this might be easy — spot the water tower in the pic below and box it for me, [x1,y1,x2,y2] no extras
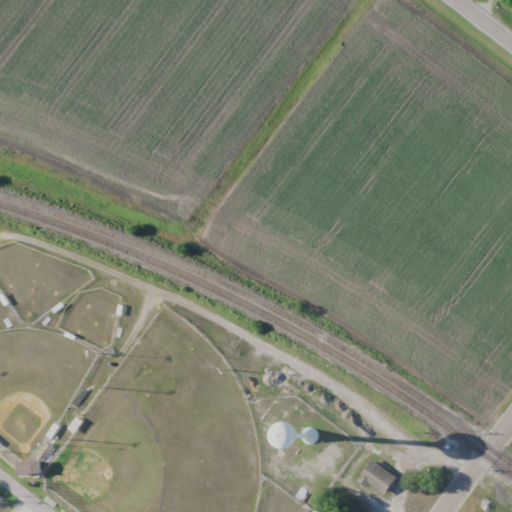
[266,422,319,450]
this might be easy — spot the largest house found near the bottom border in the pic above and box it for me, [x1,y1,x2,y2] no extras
[356,460,396,494]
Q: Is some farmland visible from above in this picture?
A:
Yes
